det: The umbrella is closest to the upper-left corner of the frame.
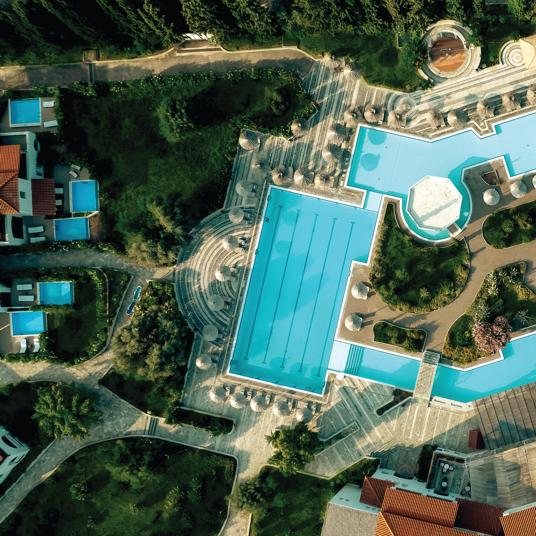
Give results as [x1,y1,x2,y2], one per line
[239,130,258,150]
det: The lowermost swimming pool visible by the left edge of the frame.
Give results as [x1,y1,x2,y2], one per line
[9,309,47,338]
